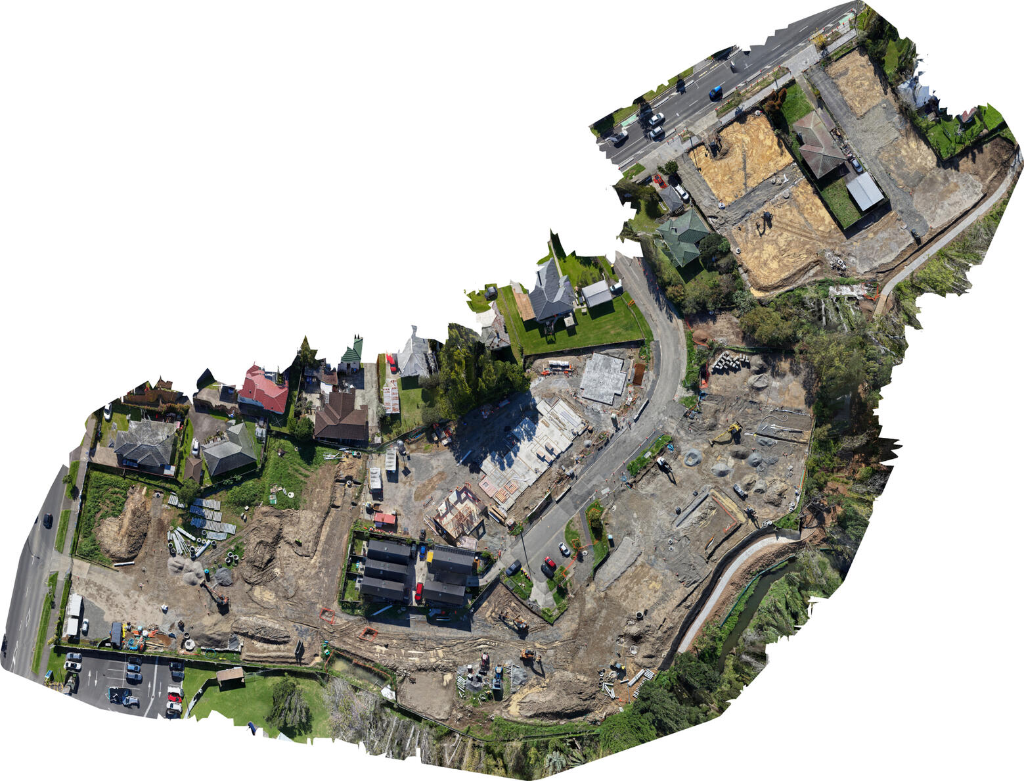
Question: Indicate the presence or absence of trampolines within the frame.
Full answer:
No, there isn't any trampoline down there.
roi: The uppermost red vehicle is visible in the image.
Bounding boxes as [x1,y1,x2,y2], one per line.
[653,173,666,189]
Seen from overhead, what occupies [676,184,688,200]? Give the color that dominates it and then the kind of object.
white vehicle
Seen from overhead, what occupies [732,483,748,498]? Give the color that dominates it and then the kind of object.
gray vehicle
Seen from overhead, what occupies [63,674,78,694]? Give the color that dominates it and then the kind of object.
gray vehicle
